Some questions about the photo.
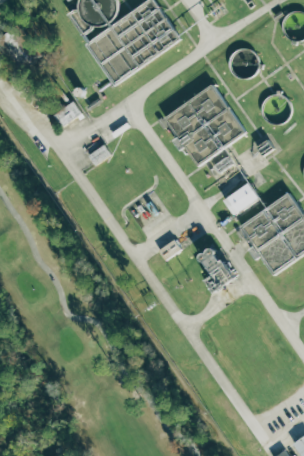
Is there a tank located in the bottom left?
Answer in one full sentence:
No, there's no tank to be seen in the bottom left.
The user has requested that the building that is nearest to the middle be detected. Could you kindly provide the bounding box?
[162,238,187,261]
